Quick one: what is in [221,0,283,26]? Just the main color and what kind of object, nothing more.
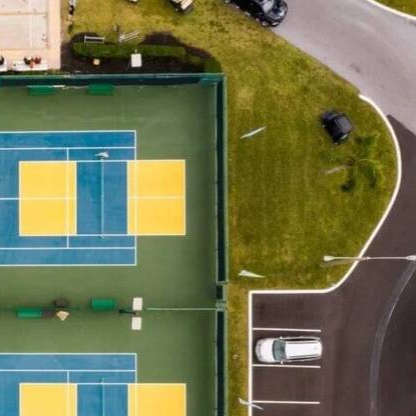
black car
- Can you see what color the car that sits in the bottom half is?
white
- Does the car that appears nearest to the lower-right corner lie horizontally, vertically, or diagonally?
horizontally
